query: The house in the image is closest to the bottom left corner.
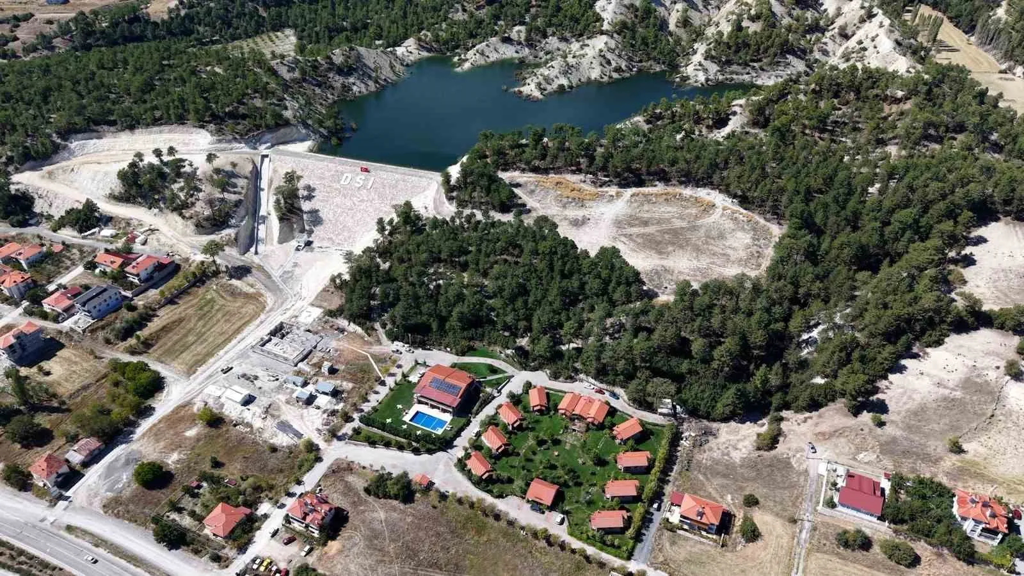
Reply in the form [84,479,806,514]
[33,457,74,495]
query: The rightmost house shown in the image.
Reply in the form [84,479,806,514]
[951,477,1008,552]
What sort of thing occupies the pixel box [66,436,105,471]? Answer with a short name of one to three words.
shed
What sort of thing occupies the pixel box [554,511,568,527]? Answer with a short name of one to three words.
vehicle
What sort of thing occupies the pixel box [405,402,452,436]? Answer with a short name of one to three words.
swimming pool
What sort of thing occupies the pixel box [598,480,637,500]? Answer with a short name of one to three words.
house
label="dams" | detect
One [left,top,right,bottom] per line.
[270,154,438,250]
